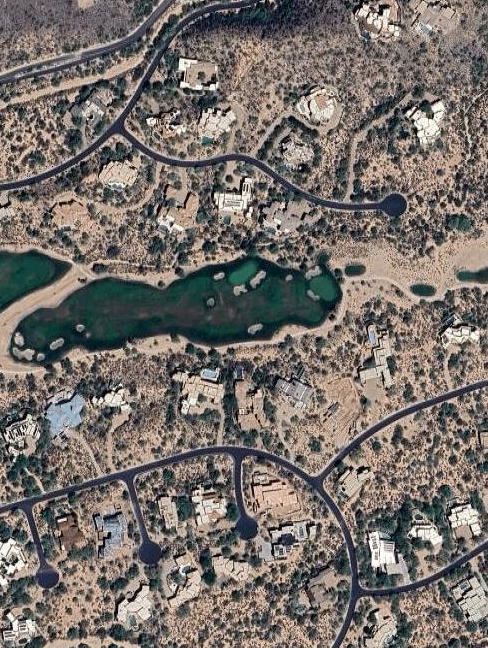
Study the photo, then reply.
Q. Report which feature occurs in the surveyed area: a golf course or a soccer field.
golf course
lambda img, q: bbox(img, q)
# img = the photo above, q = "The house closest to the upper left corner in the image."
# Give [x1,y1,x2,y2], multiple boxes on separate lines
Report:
[74,90,114,123]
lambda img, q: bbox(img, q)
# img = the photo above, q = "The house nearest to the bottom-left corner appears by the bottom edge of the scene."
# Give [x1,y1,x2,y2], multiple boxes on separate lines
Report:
[1,606,37,644]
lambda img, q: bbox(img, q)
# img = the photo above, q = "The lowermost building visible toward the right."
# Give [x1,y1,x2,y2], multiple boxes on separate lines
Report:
[364,605,397,648]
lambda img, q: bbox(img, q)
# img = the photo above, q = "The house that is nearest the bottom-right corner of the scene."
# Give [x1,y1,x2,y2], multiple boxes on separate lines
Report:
[450,574,488,624]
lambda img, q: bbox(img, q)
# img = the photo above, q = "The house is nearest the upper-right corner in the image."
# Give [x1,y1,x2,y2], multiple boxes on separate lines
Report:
[406,0,456,36]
